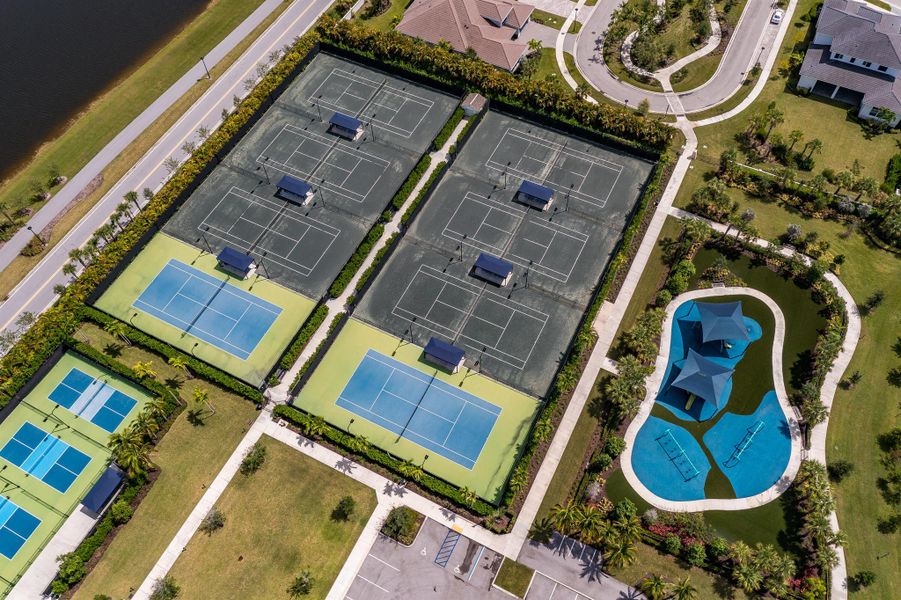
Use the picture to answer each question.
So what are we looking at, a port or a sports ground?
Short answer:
sports ground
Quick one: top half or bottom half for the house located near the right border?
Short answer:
top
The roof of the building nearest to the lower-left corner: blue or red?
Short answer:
blue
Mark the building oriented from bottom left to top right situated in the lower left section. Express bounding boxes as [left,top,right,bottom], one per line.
[79,465,127,513]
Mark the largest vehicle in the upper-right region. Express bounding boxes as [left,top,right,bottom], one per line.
[772,6,785,21]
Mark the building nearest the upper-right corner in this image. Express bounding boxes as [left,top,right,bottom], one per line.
[798,0,901,127]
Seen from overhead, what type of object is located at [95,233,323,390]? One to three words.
tennis court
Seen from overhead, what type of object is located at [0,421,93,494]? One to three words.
sports court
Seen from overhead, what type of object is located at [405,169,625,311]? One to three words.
tennis court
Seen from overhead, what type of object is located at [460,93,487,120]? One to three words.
shed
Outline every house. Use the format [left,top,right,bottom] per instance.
[392,0,538,75]
[798,0,901,127]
